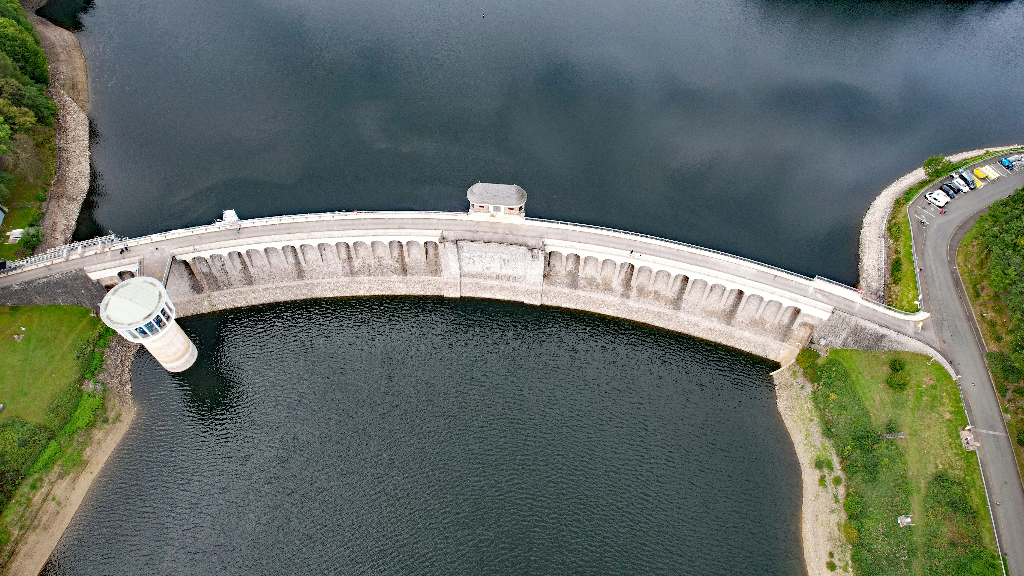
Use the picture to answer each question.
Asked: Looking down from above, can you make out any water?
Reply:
Yes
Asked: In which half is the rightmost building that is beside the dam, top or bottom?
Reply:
top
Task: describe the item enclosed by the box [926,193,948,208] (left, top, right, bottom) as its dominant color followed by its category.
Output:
white vehicle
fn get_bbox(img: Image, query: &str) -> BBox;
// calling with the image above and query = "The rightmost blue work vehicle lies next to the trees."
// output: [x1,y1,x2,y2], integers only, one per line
[1000,159,1020,176]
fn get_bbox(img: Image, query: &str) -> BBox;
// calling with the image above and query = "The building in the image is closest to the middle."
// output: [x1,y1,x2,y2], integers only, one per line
[467,178,529,218]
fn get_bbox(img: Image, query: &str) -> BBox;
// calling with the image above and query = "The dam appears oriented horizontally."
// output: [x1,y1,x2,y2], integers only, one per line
[0,207,882,360]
